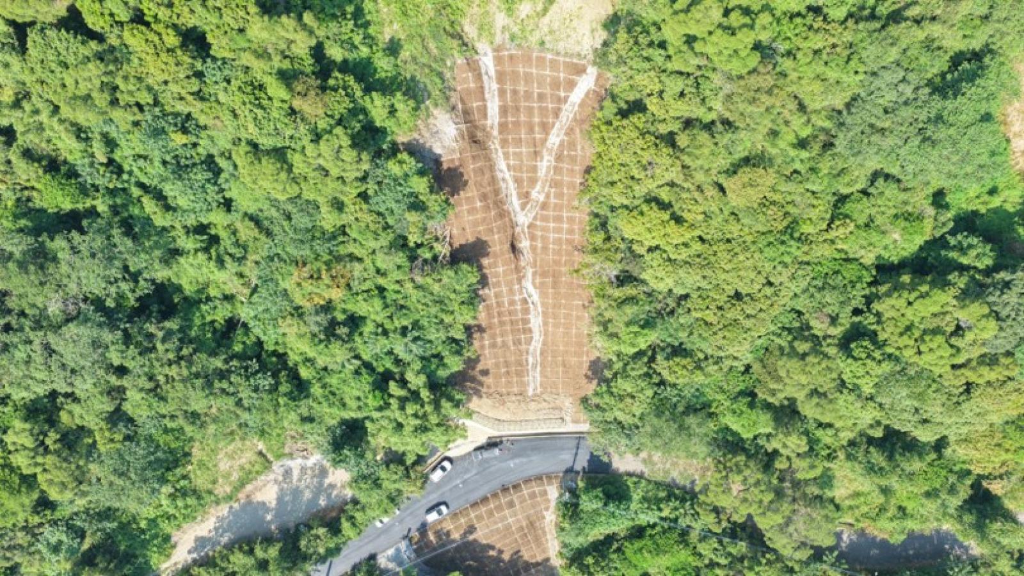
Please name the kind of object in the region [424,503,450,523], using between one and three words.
car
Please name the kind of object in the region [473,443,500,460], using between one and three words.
car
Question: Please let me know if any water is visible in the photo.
No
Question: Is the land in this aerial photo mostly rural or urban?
rural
